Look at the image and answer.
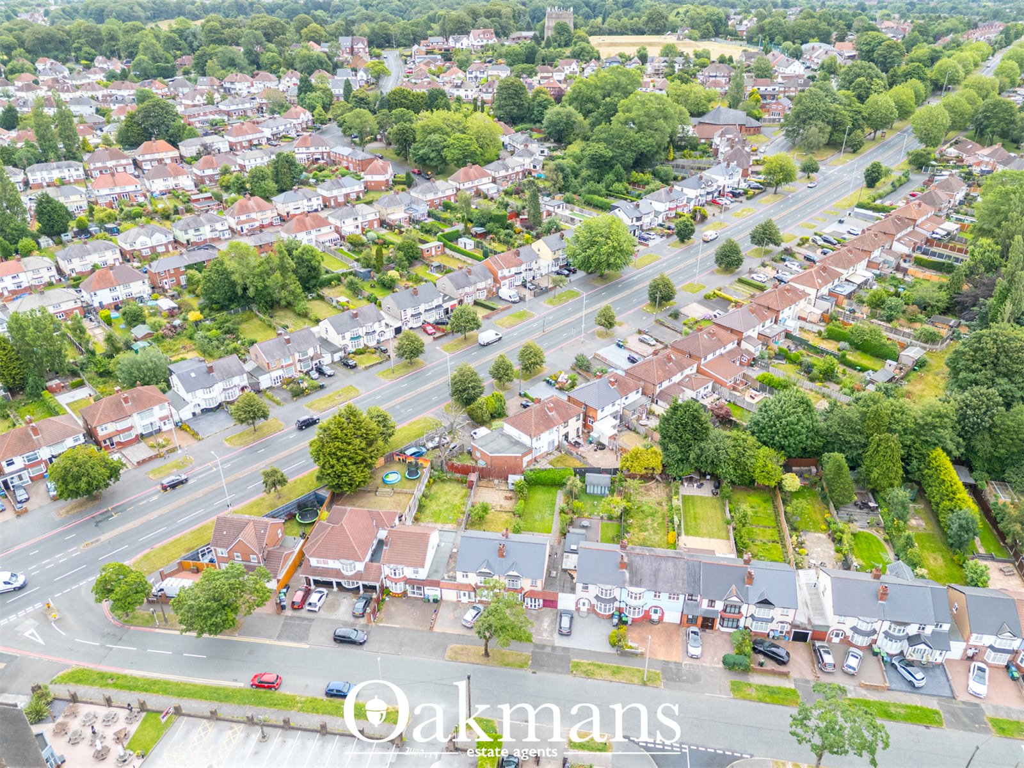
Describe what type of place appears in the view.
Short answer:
residential area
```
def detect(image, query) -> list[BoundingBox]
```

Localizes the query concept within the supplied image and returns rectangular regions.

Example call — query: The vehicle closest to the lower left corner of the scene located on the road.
[0,573,27,594]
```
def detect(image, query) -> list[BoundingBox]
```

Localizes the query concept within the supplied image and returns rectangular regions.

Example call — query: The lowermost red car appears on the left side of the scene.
[246,673,283,694]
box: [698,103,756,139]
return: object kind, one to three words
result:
building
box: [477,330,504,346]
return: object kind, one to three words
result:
vehicle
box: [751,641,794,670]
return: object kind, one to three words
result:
car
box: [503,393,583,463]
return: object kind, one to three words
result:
house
